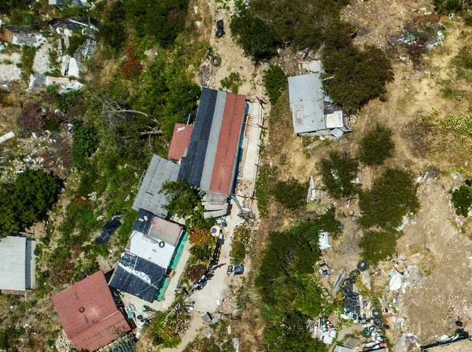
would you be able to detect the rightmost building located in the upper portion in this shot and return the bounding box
[287,72,343,141]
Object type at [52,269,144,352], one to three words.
house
